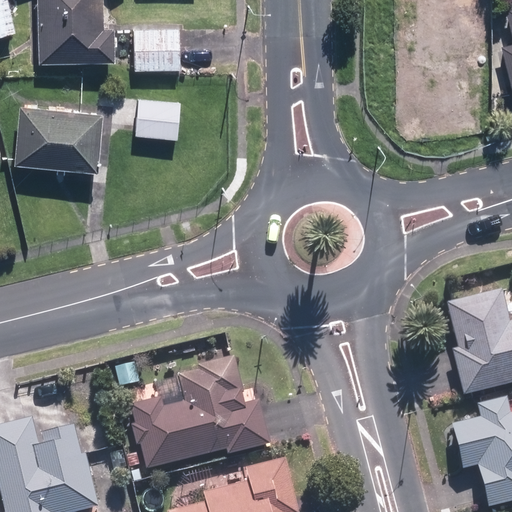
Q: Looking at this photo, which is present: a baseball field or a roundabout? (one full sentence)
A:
Visible in the photo is a roundabout.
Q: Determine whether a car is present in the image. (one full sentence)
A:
Yes, the frame does contain a car.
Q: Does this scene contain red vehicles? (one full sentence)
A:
No, there's no red vehicle here.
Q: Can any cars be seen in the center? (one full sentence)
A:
Yes, a car is visible in the center.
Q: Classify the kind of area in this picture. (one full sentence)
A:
It's a residential area.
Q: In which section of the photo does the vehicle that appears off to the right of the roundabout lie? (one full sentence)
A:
You can find the vehicle that appears off to the right of the roundabout in the right area of the picture.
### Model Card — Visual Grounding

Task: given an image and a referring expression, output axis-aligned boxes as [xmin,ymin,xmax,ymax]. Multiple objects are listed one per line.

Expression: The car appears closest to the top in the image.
[181,49,212,65]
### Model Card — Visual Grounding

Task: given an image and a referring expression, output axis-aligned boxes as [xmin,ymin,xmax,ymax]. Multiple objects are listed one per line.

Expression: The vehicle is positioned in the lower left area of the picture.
[33,384,60,400]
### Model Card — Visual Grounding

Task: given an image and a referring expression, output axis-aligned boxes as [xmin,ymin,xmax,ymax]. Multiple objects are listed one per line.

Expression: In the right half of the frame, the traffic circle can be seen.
[282,201,364,275]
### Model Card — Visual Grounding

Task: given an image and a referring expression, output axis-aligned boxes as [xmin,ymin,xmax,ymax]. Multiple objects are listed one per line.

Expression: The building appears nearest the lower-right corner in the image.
[452,395,512,507]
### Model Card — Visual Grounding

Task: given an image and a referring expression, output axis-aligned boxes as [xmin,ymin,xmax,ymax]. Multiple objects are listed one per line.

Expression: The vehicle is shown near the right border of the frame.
[468,216,506,236]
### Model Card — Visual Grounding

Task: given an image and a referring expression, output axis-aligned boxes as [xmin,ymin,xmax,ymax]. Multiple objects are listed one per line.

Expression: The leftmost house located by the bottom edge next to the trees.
[0,416,98,512]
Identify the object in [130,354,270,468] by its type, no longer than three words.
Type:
house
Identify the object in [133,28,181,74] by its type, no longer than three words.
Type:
building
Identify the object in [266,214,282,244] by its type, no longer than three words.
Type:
car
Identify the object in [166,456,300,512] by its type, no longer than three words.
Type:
house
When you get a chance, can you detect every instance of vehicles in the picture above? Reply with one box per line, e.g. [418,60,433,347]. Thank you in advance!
[468,216,506,236]
[181,49,212,65]
[266,214,282,244]
[33,384,60,400]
